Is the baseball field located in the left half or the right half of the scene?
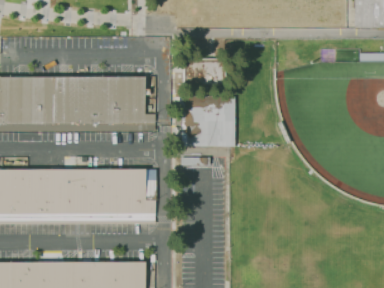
right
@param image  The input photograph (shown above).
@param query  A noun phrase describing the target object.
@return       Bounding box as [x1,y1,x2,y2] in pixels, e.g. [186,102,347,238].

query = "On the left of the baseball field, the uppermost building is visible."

[186,54,222,85]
